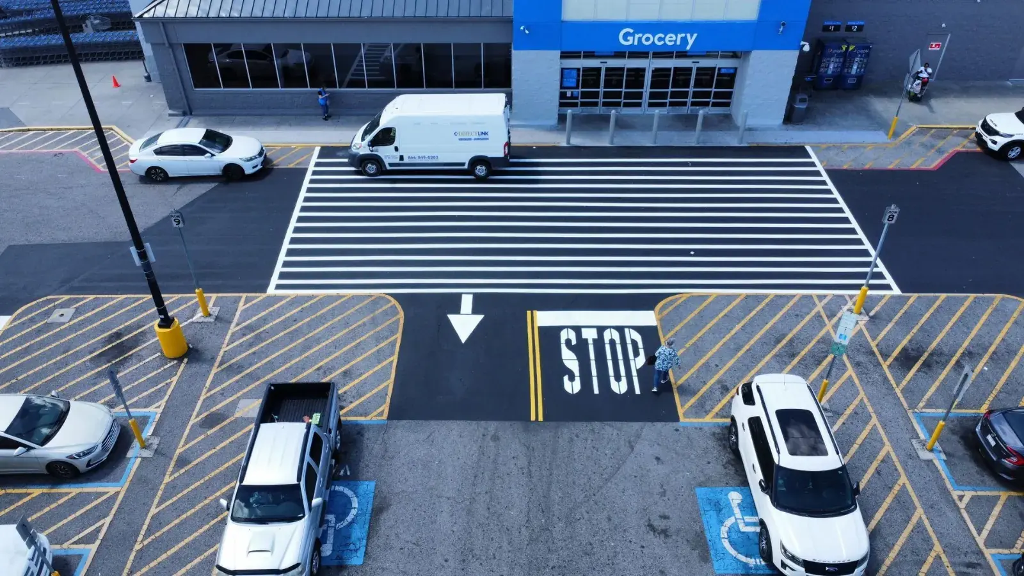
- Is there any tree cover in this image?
No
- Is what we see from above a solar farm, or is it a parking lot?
parking lot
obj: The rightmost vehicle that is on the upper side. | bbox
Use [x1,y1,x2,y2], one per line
[973,106,1024,162]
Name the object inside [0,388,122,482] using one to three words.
car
